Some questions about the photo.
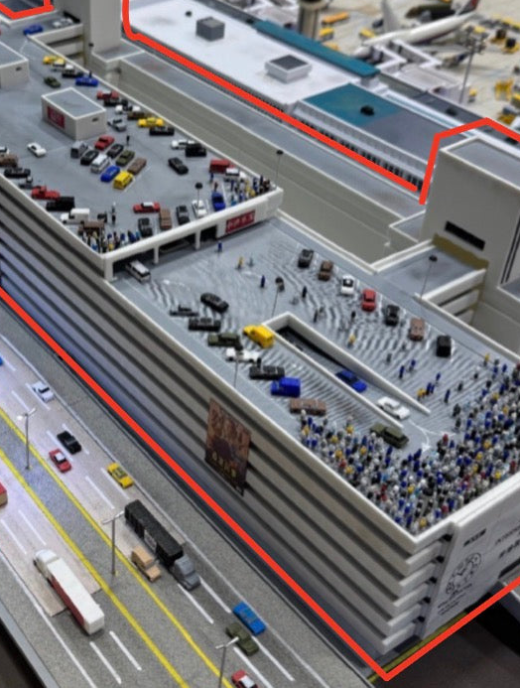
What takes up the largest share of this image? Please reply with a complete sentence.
Most of the picture is covered by buildings.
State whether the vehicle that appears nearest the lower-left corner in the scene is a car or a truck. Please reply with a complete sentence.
The vehicle that appears nearest the lower-left corner is a truck.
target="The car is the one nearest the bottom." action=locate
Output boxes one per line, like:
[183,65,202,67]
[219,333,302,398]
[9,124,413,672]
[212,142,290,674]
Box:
[227,664,258,688]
